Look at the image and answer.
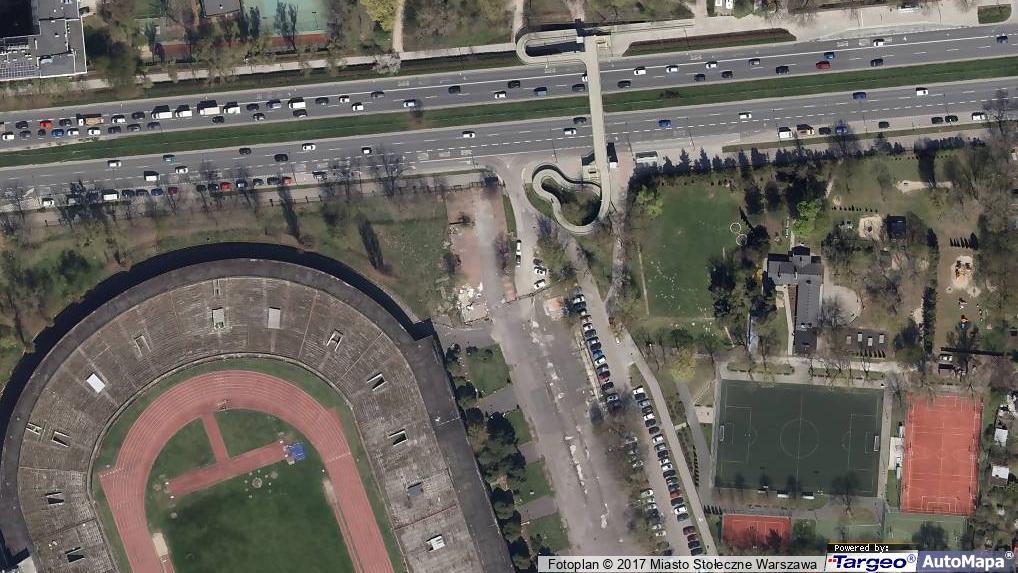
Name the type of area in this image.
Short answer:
sports ground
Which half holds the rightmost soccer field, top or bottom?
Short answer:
bottom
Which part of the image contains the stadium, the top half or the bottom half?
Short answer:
bottom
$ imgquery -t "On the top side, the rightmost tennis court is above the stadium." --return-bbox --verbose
[250,0,330,38]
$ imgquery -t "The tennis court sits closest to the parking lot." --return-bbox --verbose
[721,513,790,549]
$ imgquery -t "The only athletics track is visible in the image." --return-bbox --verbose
[97,370,394,573]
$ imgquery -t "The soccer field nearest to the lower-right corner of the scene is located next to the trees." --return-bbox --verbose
[715,380,884,497]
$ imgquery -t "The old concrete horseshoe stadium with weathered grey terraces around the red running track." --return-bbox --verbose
[0,259,514,573]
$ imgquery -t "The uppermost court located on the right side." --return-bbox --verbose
[901,393,983,515]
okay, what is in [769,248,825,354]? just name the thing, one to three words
building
